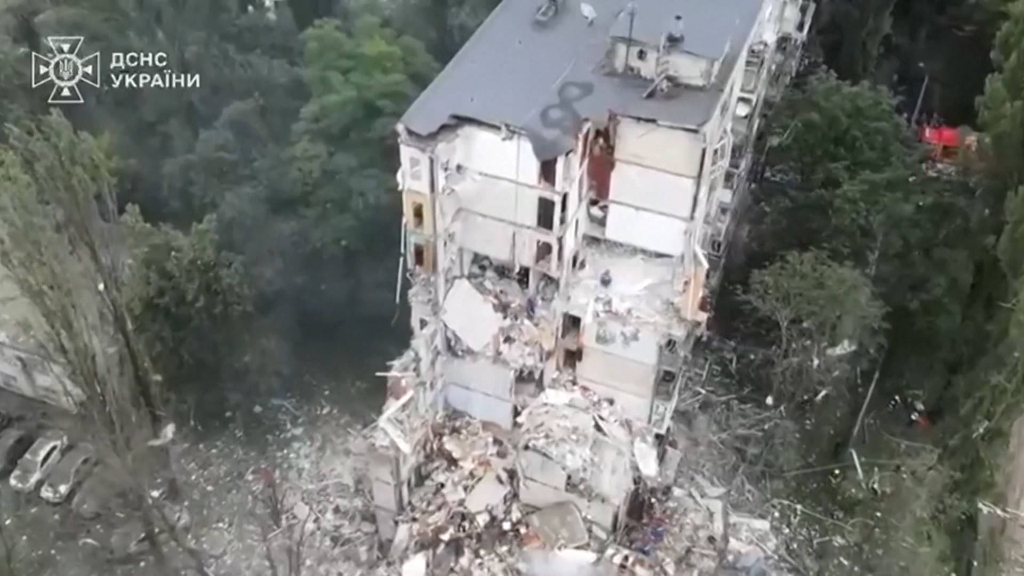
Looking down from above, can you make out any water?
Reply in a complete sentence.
No, no water is visible.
